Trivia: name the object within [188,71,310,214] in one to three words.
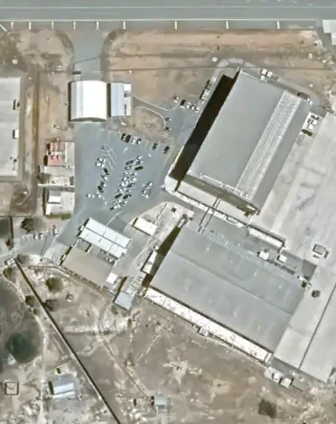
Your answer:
hangar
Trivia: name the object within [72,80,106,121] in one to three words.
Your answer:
hangar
